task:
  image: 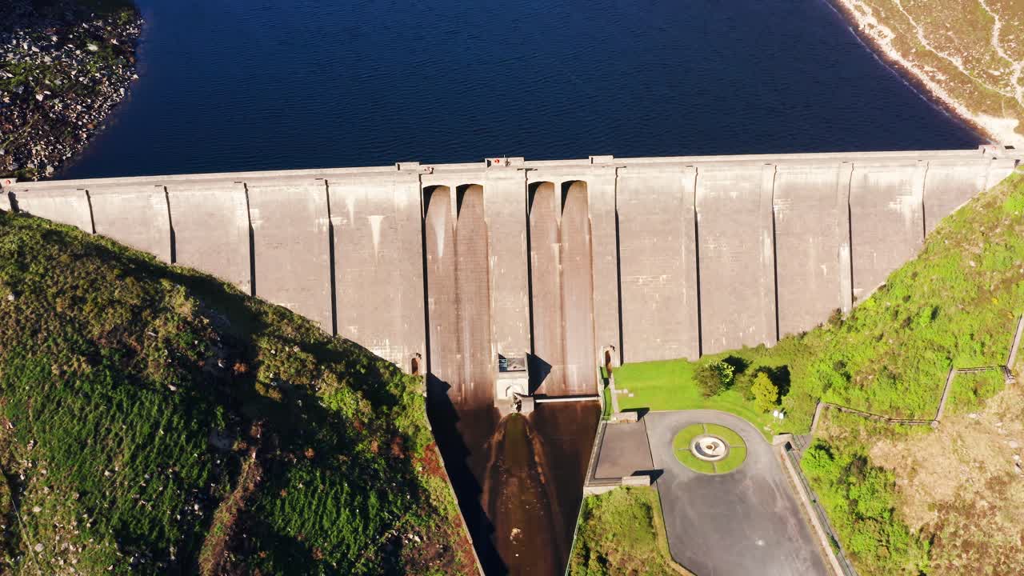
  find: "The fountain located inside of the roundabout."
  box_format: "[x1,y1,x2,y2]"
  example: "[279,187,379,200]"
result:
[691,434,728,461]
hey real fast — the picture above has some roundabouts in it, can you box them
[674,423,748,476]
